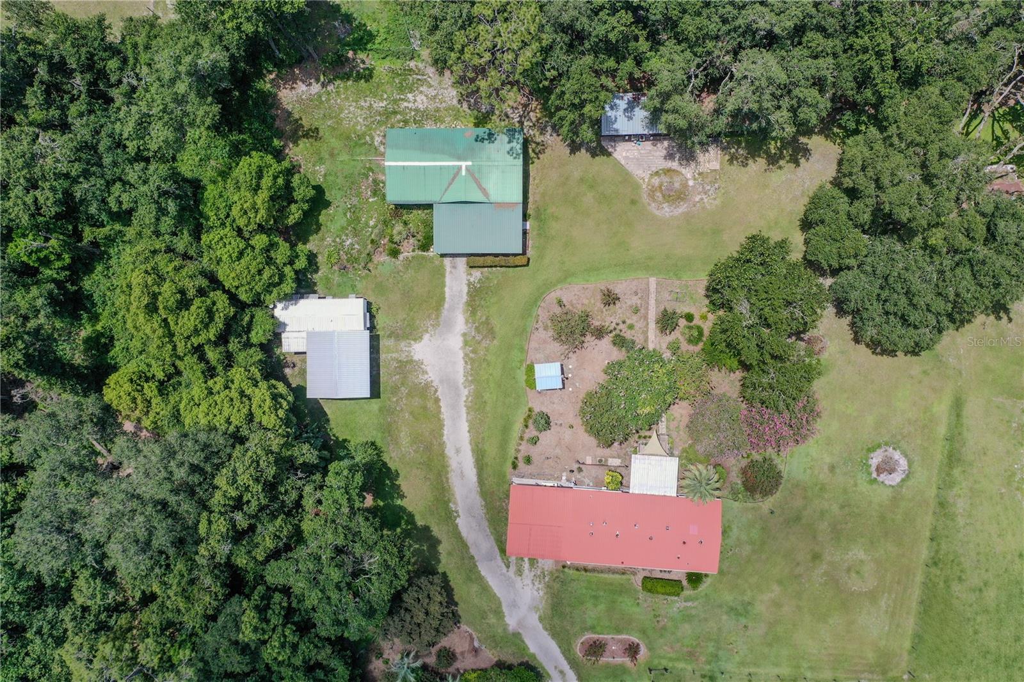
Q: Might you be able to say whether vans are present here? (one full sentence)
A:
No, the scene contains no van.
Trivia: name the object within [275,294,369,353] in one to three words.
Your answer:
shed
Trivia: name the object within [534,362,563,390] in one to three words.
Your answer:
shed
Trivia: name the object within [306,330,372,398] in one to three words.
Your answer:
building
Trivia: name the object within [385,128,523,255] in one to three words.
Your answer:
barn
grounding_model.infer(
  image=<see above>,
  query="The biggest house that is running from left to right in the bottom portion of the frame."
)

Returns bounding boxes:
[507,482,722,575]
